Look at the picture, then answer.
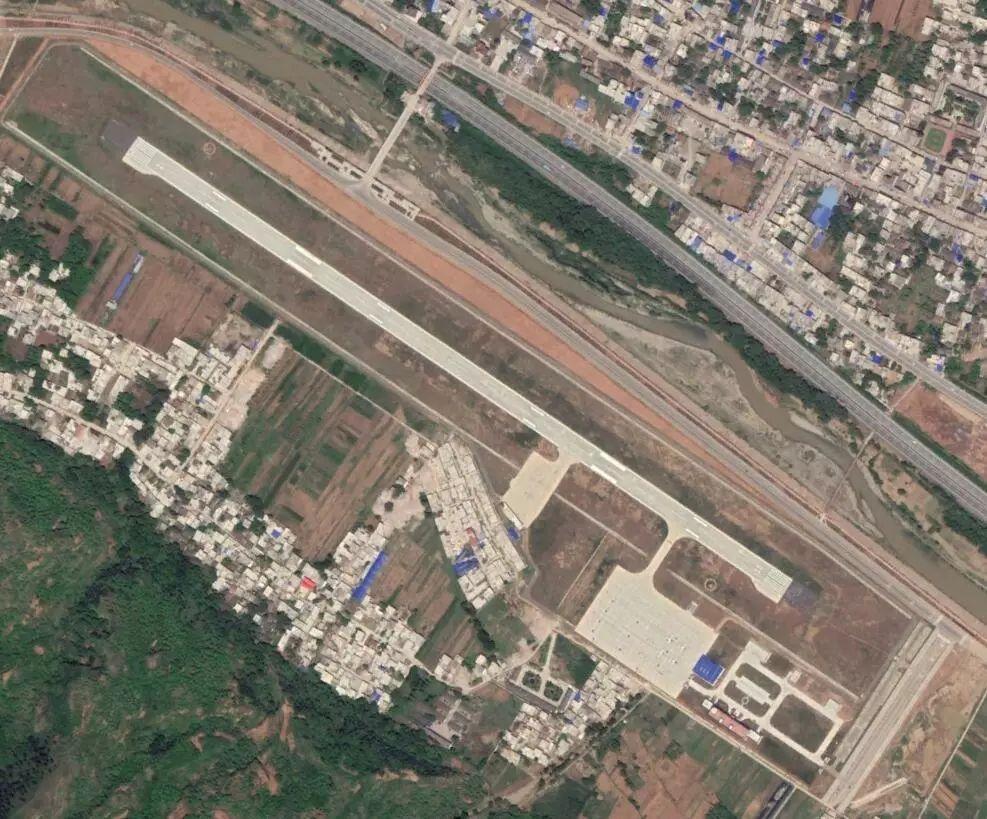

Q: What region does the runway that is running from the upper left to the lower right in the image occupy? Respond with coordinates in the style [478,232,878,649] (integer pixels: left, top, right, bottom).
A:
[123,138,791,603]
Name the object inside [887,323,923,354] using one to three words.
house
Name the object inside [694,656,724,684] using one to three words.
hangar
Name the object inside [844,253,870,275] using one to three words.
house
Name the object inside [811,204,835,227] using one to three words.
building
